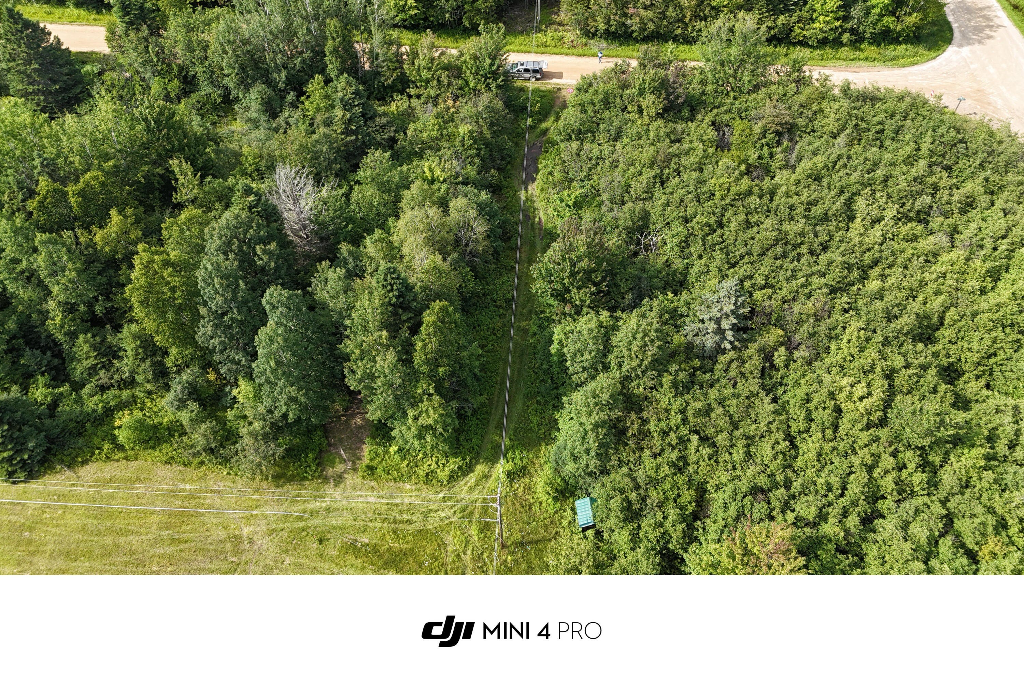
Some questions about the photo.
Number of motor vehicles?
1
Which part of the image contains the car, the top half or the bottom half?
top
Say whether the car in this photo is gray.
Yes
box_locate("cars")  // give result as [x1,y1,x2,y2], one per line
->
[505,59,551,80]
